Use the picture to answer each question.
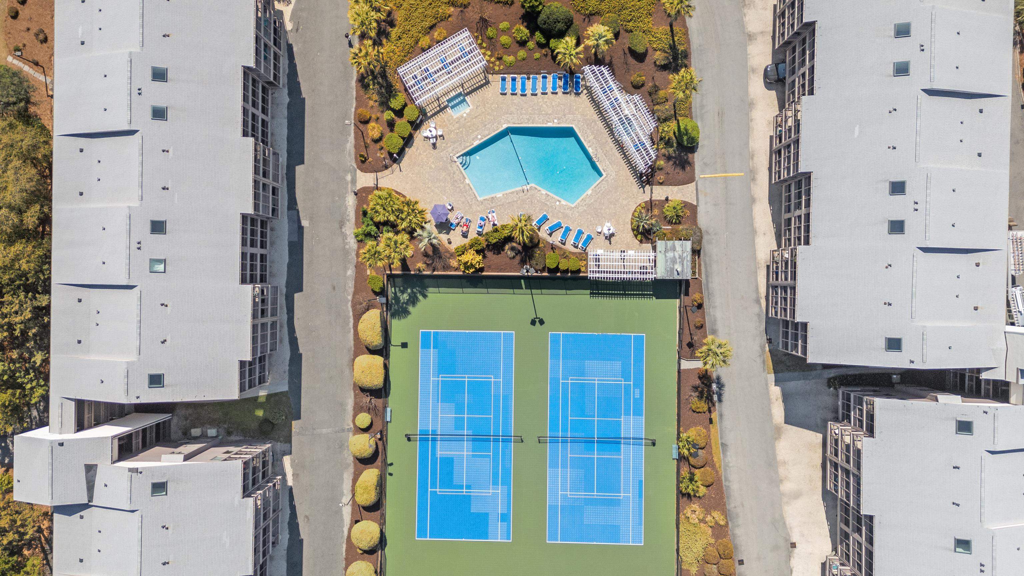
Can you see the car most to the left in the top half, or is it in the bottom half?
top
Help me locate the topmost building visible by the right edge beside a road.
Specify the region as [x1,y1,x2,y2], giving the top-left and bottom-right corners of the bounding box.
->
[769,0,1024,400]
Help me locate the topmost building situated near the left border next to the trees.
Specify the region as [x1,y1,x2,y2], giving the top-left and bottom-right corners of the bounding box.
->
[50,0,283,436]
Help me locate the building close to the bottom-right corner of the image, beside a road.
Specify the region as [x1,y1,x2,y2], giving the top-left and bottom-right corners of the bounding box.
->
[826,378,1024,576]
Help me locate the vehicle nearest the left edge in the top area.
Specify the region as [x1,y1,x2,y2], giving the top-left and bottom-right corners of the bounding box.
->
[763,62,785,83]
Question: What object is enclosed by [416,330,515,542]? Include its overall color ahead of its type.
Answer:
blue tennis court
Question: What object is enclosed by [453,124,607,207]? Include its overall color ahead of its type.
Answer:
blue swimming pool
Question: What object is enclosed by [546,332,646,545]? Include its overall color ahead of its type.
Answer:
blue tennis court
